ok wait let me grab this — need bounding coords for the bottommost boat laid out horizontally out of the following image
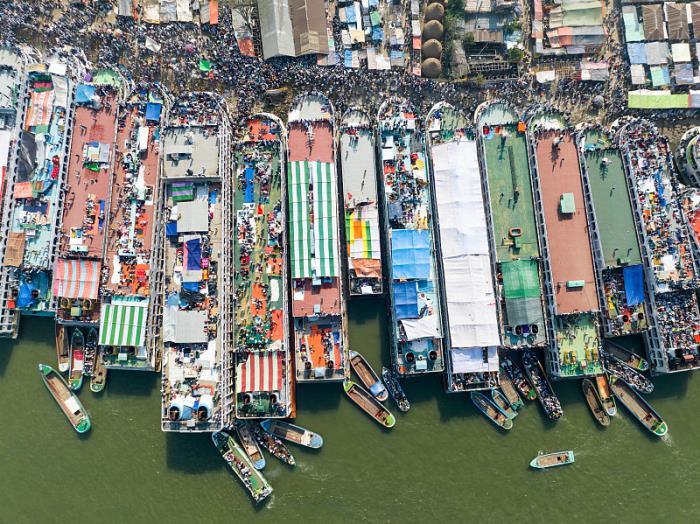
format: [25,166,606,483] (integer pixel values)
[530,452,574,469]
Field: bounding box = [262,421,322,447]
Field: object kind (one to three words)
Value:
boat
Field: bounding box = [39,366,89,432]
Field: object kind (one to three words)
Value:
boat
